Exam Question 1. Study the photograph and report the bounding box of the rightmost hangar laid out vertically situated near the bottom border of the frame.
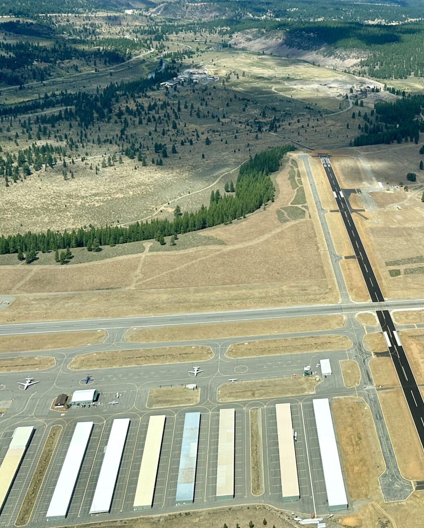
[313,398,347,511]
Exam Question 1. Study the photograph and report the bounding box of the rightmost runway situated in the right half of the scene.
[320,156,424,450]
